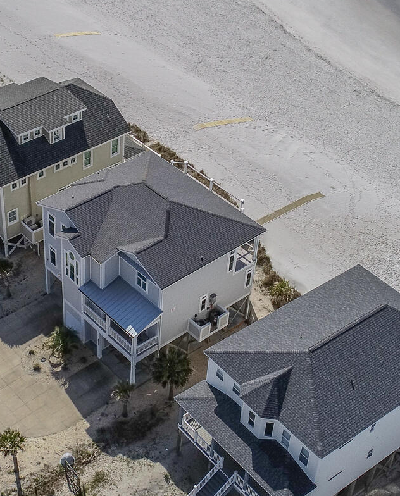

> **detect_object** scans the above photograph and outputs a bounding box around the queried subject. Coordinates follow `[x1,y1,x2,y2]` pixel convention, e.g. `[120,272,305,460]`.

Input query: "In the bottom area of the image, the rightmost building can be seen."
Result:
[172,266,400,496]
